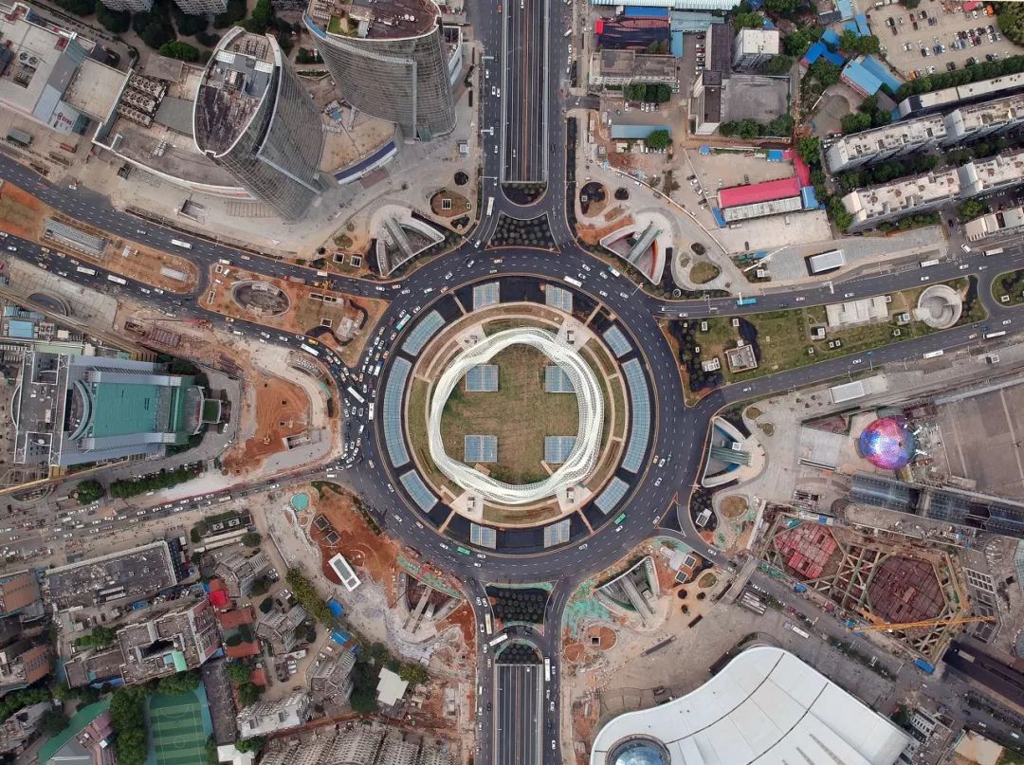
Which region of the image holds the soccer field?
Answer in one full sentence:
The soccer field appears toward the bottom left of the photo.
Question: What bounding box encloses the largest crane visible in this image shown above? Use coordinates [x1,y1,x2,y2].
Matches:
[841,609,995,635]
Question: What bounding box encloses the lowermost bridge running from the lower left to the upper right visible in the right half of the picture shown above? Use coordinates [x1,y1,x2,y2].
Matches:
[722,557,759,603]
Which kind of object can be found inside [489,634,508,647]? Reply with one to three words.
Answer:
vehicle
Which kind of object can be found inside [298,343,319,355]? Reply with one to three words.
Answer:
vehicle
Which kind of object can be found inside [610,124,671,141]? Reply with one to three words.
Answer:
shed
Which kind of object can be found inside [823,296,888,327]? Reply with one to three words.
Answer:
building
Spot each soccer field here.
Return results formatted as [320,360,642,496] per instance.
[145,685,215,765]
